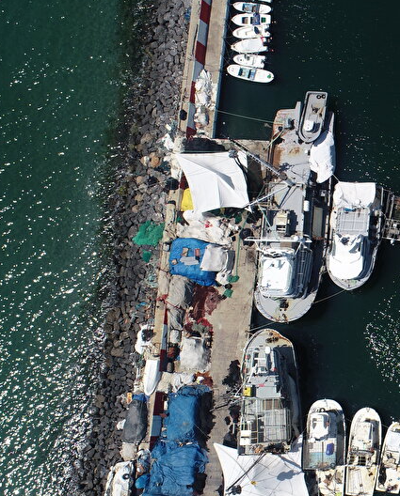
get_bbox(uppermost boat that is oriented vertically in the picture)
[299,90,328,144]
